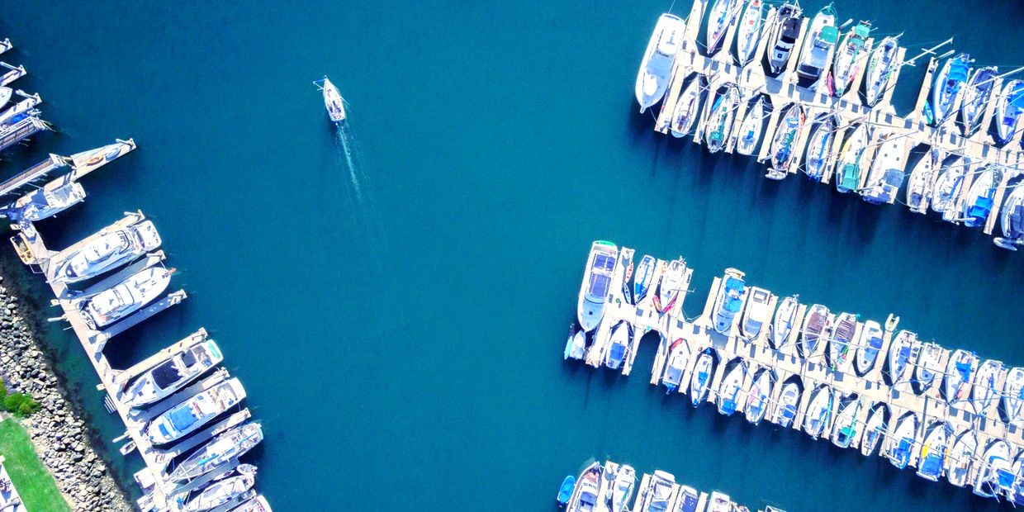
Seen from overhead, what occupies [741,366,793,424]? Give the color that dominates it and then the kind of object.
white boat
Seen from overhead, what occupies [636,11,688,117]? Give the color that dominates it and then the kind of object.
white boat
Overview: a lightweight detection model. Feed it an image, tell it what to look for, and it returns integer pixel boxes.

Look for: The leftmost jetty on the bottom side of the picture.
[10,139,258,512]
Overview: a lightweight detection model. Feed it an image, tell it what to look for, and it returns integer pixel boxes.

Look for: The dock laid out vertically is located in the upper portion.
[0,38,43,136]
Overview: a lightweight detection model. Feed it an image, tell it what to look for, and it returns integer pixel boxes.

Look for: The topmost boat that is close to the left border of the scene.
[0,86,22,112]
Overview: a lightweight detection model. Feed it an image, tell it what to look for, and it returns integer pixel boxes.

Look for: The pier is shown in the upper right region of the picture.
[654,0,1024,243]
